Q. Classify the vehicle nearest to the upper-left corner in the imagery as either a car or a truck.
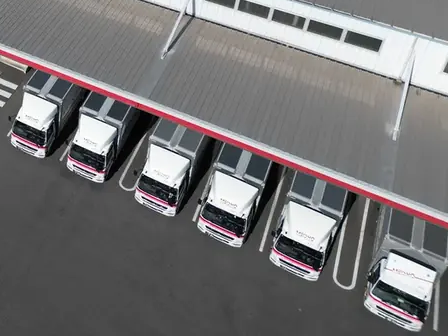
truck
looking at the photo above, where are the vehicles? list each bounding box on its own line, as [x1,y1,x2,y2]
[133,119,208,217]
[196,142,269,246]
[270,169,346,283]
[64,92,140,182]
[7,71,86,158]
[366,201,448,332]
